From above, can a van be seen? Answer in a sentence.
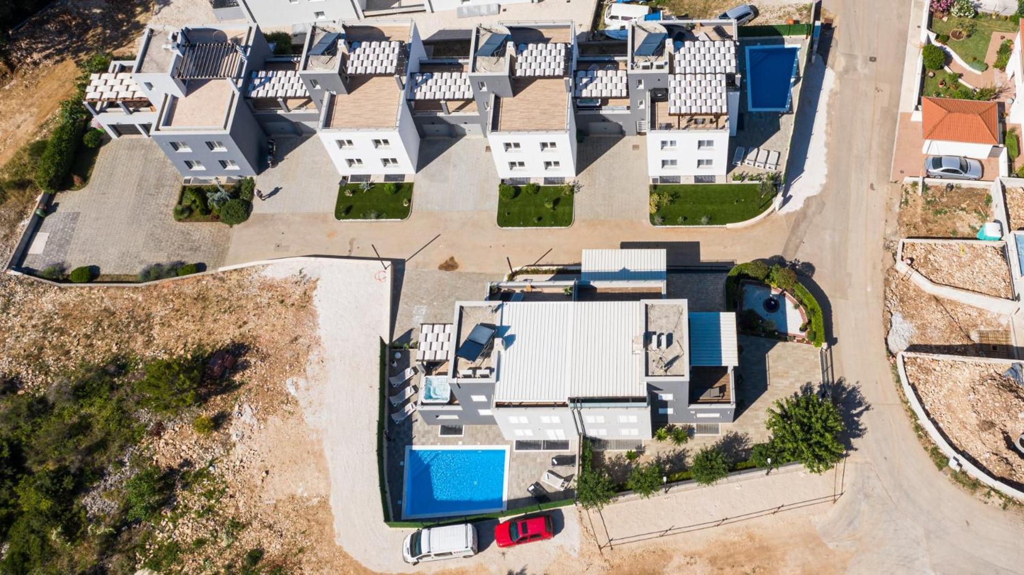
Yes, the picture does show a van.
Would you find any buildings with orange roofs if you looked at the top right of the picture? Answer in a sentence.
Yes, a building with an orange roof is visible at the top right of the picture.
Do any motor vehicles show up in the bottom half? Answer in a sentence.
Yes, a motor vehicle shows up in the bottom half.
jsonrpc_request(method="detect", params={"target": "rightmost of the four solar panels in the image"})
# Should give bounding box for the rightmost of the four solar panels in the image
[631,28,668,63]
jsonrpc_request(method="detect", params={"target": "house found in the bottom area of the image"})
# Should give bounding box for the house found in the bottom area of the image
[418,276,735,453]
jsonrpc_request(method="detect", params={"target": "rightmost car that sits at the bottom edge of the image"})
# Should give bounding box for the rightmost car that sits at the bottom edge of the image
[493,511,557,547]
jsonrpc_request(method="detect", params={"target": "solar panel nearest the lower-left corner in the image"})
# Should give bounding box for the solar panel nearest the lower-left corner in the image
[450,312,497,361]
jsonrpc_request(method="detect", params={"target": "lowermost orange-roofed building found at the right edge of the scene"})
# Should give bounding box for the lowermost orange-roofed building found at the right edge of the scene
[916,98,1008,160]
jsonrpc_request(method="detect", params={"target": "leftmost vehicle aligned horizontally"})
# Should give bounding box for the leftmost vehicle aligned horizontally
[404,519,481,561]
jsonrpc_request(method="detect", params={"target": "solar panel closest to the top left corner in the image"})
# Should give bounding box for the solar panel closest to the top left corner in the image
[307,27,344,63]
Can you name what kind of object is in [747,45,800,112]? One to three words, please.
swimming pool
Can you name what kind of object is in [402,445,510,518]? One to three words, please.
swimming pool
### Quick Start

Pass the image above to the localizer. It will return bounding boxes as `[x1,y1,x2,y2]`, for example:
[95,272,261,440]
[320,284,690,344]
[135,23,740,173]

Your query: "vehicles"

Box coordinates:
[493,511,557,547]
[922,153,985,181]
[404,519,481,561]
[715,1,766,28]
[599,3,658,27]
